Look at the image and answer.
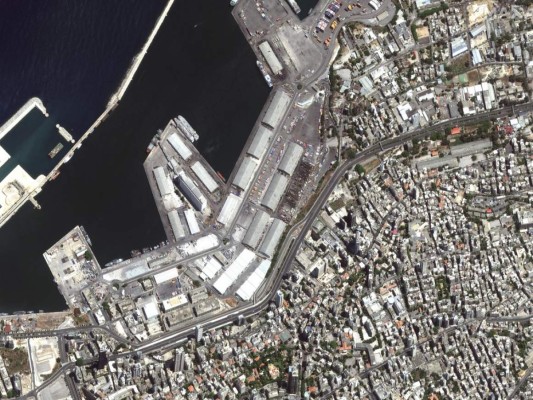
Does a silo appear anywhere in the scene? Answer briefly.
Yes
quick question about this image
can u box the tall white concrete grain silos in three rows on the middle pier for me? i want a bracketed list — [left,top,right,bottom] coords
[180,167,213,215]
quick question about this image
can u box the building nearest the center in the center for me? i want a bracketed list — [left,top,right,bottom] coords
[261,171,289,213]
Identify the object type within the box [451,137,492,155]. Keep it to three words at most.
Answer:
shed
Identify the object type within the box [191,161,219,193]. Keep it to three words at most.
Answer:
building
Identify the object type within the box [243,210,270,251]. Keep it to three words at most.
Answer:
building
